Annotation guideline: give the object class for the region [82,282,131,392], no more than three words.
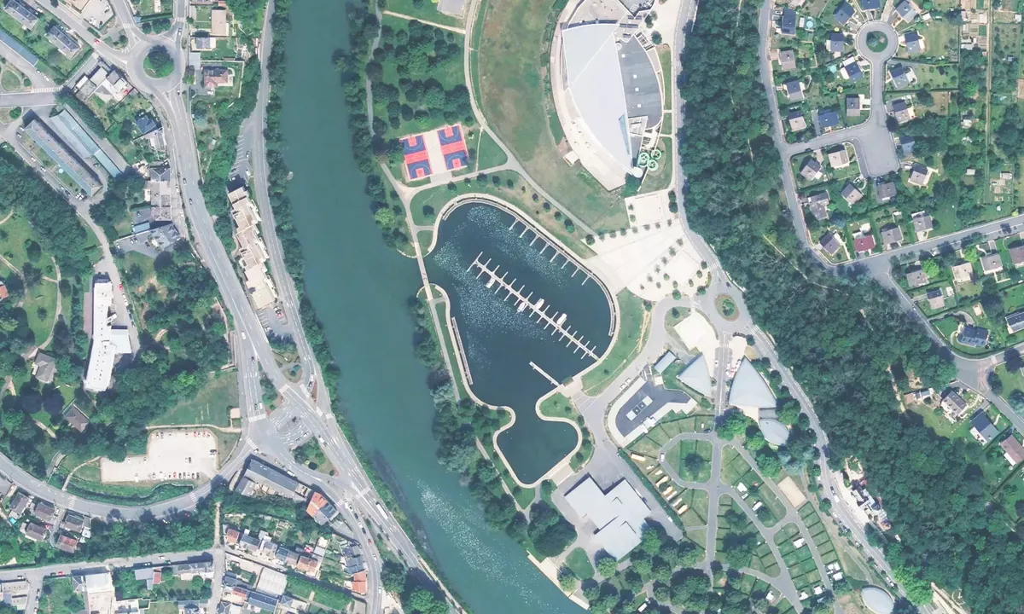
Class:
building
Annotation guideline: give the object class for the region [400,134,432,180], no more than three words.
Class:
basketball court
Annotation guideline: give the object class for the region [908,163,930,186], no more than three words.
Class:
house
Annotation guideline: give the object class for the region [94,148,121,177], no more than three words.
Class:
shed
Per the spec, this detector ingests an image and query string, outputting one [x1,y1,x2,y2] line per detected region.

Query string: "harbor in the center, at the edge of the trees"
[424,194,621,490]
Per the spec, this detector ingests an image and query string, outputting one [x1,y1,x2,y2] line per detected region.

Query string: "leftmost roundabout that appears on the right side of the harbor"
[704,286,748,330]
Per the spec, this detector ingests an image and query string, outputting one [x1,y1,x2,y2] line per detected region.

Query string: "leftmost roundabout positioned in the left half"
[131,32,187,89]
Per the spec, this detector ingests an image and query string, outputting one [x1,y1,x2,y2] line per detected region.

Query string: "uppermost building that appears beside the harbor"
[551,0,663,191]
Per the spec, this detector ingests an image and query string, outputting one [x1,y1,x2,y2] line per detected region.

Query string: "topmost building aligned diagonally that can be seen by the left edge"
[1,0,38,29]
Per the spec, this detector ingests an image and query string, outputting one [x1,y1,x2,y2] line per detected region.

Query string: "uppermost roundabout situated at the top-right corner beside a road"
[854,18,900,64]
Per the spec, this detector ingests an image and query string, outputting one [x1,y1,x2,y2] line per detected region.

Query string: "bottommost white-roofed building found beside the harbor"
[565,477,651,561]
